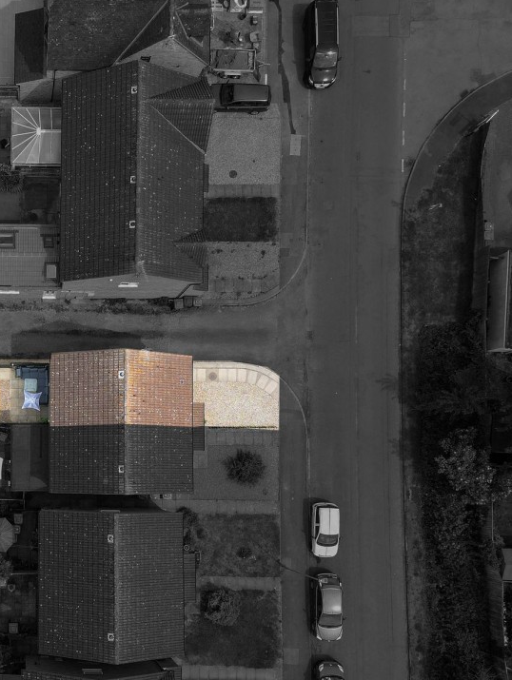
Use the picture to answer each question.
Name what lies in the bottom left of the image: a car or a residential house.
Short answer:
residential house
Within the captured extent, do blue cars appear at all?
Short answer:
No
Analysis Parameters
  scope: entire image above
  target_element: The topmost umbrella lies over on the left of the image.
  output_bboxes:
[21,390,41,410]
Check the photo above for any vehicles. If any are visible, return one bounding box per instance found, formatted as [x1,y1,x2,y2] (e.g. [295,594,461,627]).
[308,501,341,558]
[302,0,342,89]
[212,81,273,116]
[310,572,345,640]
[311,658,347,680]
